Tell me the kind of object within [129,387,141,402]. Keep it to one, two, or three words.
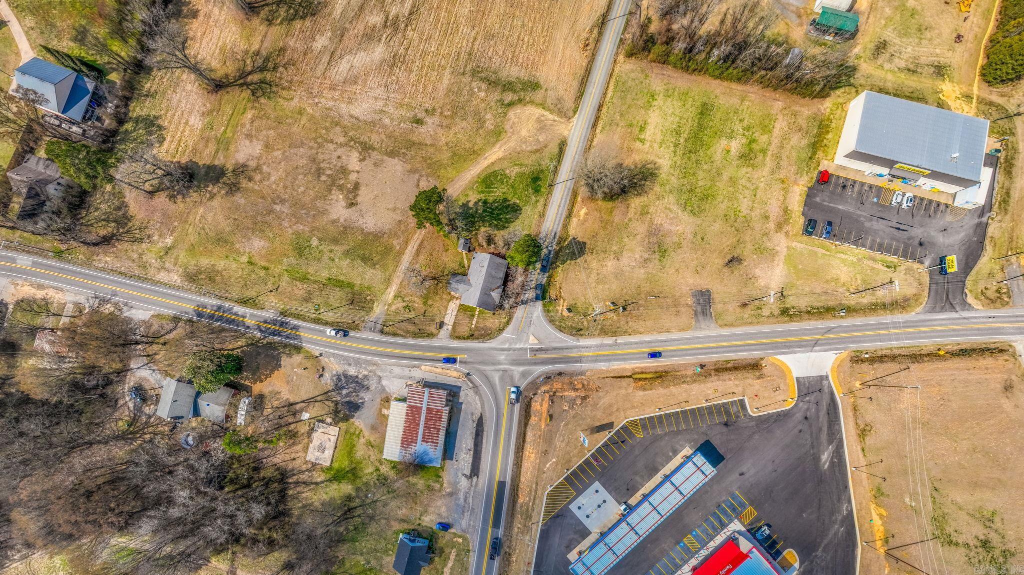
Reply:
vehicle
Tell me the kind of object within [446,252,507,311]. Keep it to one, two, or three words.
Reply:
house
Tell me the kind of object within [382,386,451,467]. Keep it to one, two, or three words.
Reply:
building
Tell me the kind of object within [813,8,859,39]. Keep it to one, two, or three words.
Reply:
shed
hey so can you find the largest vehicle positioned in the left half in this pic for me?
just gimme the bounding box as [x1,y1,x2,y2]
[237,393,256,425]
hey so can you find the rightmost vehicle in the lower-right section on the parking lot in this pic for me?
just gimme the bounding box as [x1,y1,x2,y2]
[755,524,772,539]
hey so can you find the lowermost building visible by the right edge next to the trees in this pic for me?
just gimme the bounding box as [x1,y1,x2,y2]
[834,91,987,193]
